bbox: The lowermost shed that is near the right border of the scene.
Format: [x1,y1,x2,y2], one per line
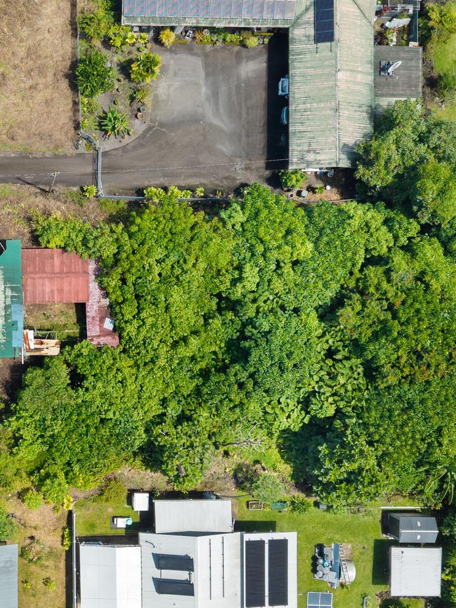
[384,545,442,596]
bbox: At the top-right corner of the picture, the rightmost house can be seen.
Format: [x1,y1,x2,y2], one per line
[380,0,421,47]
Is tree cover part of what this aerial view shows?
Yes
